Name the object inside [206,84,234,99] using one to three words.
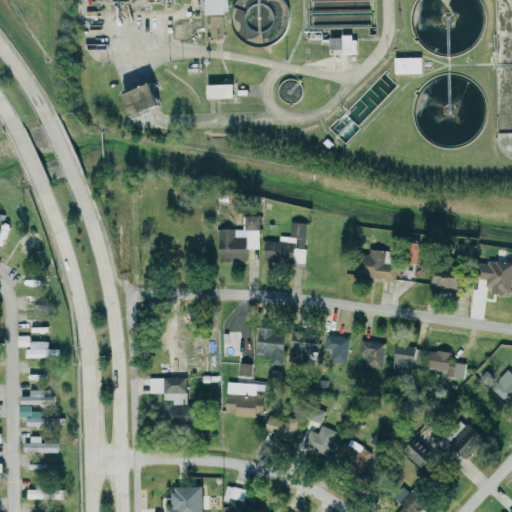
building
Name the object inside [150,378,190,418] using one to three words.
house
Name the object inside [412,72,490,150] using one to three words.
storage tank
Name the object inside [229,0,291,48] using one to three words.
storage tank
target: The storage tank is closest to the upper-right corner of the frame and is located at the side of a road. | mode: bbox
[410,0,488,58]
